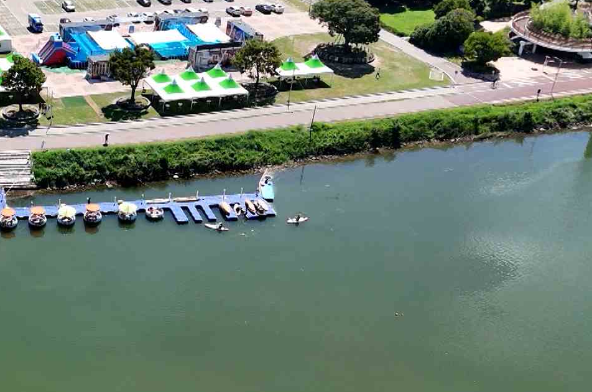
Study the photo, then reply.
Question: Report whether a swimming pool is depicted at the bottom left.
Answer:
No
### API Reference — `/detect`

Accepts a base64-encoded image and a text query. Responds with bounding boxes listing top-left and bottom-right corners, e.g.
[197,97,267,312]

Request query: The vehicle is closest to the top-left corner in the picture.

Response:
[27,10,43,32]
